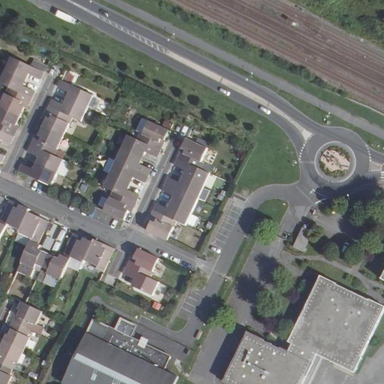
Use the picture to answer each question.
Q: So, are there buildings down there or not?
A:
Yes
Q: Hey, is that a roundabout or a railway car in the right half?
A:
roundabout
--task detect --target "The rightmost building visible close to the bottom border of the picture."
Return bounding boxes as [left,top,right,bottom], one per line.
[219,276,384,384]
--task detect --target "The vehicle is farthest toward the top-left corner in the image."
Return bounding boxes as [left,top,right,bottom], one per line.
[56,10,78,24]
